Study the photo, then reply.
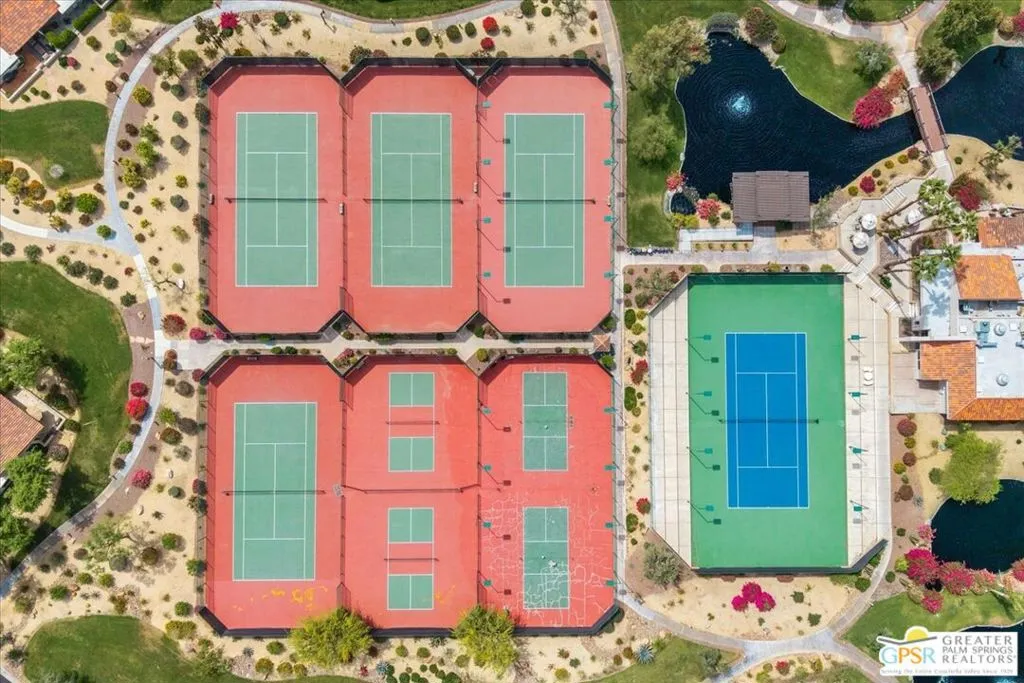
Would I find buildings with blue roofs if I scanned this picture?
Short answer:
No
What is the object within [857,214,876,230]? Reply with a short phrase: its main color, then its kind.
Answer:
white umbrella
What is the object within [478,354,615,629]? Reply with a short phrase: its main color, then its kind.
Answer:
red sports court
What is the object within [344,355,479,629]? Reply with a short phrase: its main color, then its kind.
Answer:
red sports court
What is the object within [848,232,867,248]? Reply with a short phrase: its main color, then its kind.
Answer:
white umbrella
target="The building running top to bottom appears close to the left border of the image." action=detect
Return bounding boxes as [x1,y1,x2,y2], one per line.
[0,393,44,493]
